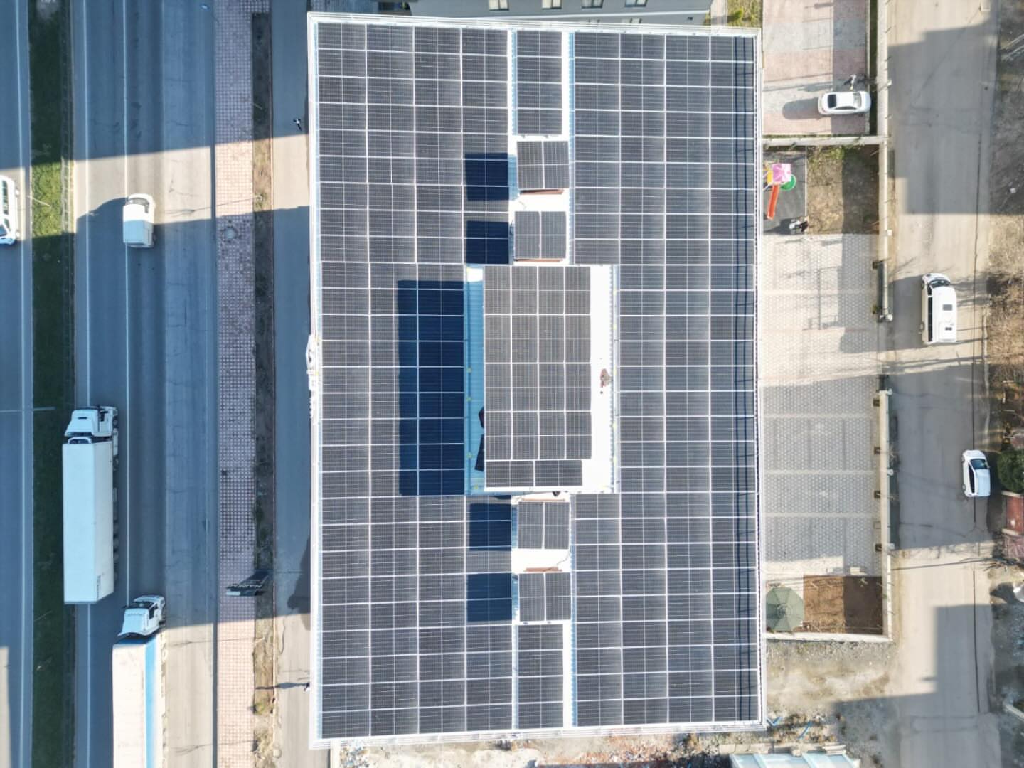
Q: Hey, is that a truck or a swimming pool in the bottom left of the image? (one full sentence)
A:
Looking in the bottom left of the image, you will find a truck.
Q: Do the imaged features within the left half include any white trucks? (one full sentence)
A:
Yes, the scene does show a white truck within the left half.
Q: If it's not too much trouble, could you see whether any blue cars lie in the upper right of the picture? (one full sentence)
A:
No, no blue car appears in the upper right of the picture.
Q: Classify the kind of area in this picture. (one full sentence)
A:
This looks like a solar farm.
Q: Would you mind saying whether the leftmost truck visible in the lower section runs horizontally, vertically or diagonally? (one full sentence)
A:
What the image shows is the leftmost truck visible in the lower section lying vertically.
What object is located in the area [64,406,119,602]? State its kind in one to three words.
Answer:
truck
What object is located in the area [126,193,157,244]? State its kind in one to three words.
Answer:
van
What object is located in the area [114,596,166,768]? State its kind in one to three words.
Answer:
truck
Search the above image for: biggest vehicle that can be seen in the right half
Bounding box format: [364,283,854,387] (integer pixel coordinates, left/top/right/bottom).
[919,273,955,344]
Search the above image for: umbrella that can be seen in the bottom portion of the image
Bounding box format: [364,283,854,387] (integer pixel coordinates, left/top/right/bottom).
[765,587,803,630]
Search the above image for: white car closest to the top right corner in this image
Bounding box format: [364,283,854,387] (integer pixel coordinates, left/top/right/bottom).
[820,89,871,115]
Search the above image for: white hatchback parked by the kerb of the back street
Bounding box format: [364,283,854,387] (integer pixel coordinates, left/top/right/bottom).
[962,450,991,496]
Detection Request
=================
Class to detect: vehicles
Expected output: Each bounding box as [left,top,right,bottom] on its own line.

[114,596,166,768]
[64,406,119,602]
[919,273,955,344]
[126,193,157,244]
[962,450,991,496]
[0,172,17,243]
[820,89,871,115]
